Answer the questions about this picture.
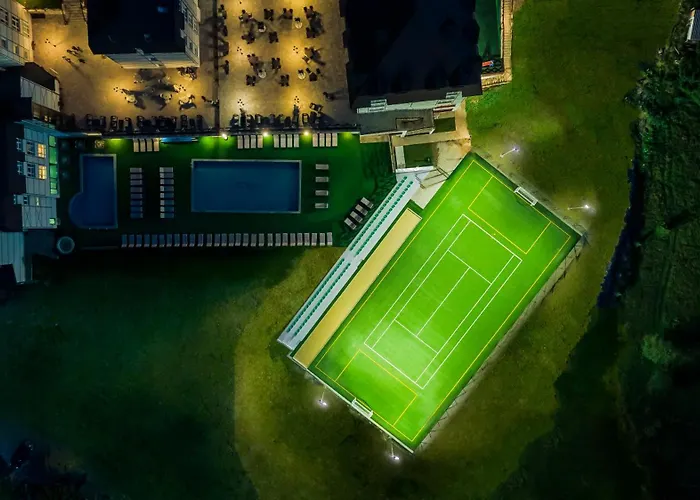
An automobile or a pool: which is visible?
pool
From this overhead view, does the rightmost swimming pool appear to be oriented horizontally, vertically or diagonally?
horizontally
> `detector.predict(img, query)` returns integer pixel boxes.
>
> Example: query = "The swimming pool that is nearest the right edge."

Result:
[190,159,300,213]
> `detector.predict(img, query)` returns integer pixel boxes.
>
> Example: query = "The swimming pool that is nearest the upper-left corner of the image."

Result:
[68,155,116,228]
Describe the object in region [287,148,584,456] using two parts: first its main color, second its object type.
green sports court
